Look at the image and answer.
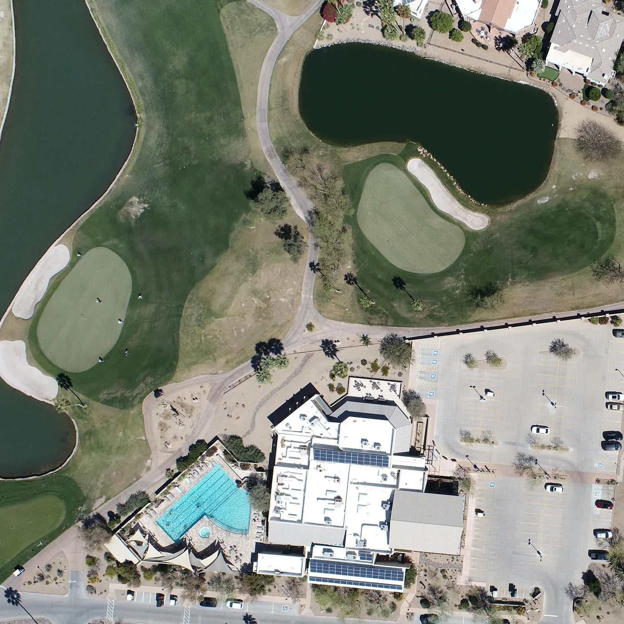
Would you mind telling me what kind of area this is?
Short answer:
golf course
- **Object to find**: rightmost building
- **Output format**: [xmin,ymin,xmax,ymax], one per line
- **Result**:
[545,0,624,88]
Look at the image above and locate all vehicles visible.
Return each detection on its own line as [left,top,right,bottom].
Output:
[532,426,550,435]
[607,403,624,411]
[157,595,165,606]
[603,432,622,440]
[171,597,179,606]
[226,599,244,608]
[421,614,439,624]
[128,592,136,601]
[594,530,611,540]
[487,391,495,397]
[477,511,486,517]
[595,500,613,509]
[201,598,219,607]
[602,443,621,451]
[546,485,564,493]
[614,329,624,338]
[493,589,499,598]
[13,568,25,576]
[589,551,609,561]
[607,392,624,400]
